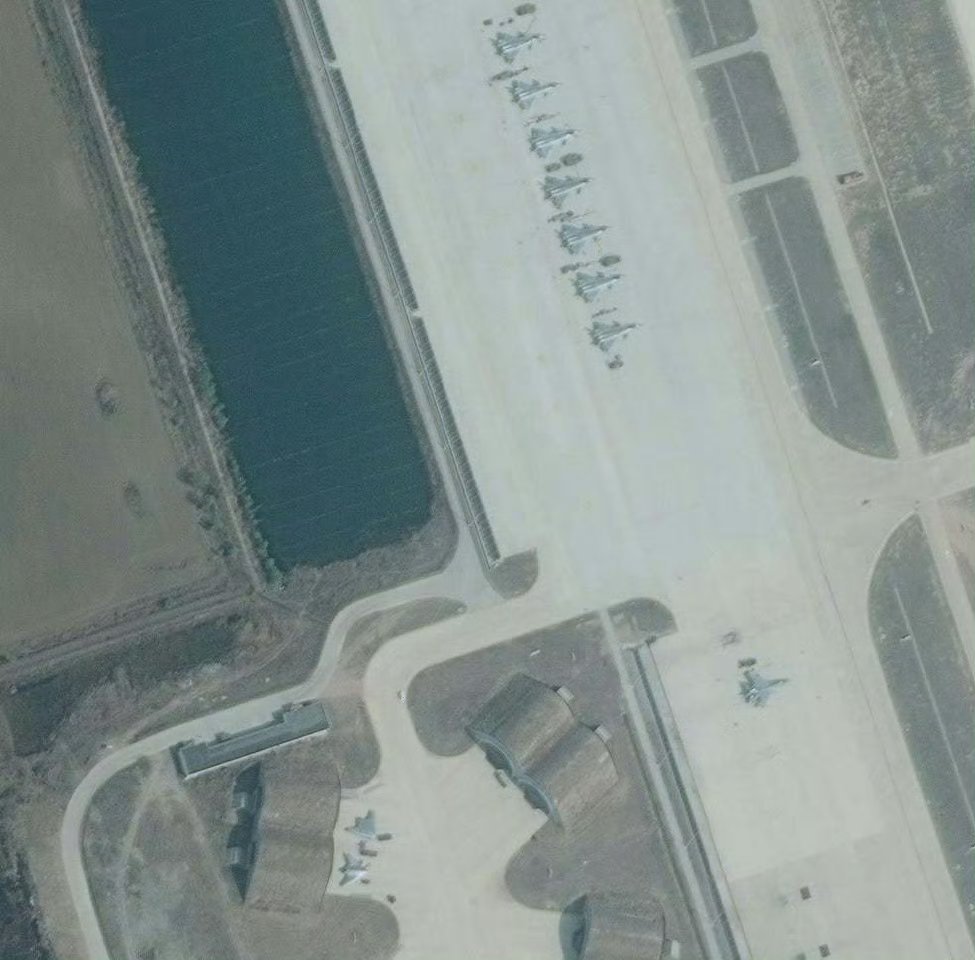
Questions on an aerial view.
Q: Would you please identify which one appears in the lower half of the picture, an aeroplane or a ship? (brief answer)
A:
aeroplane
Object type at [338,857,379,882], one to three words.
airplane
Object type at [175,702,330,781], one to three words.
building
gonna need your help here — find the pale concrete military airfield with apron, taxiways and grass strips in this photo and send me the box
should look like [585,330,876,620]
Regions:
[318,0,975,960]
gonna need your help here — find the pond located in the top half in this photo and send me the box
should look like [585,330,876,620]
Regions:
[83,0,435,573]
